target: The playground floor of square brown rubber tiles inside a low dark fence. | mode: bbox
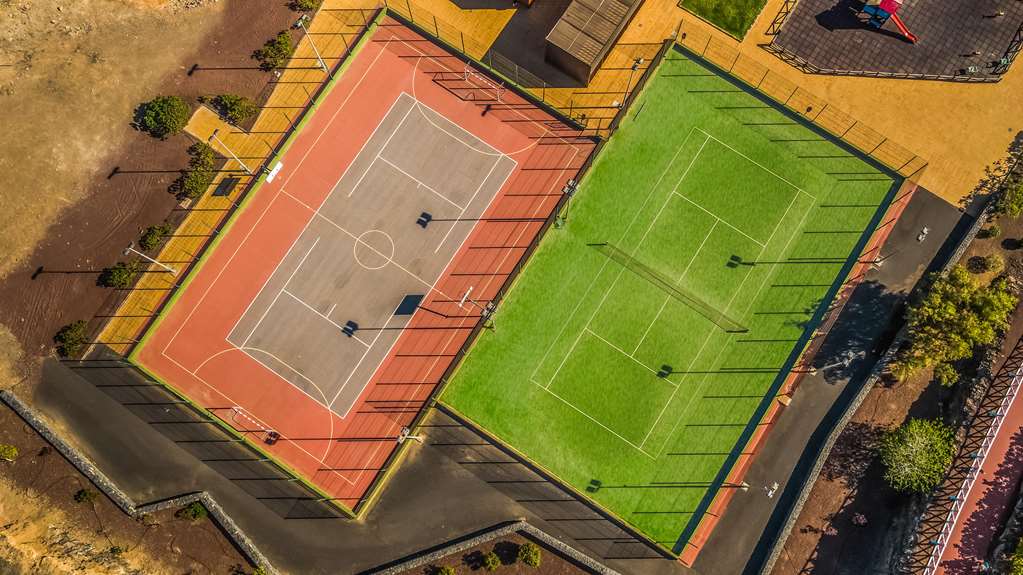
[771,0,1023,79]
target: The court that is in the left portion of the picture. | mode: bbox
[126,7,603,519]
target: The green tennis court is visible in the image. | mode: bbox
[358,39,910,559]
